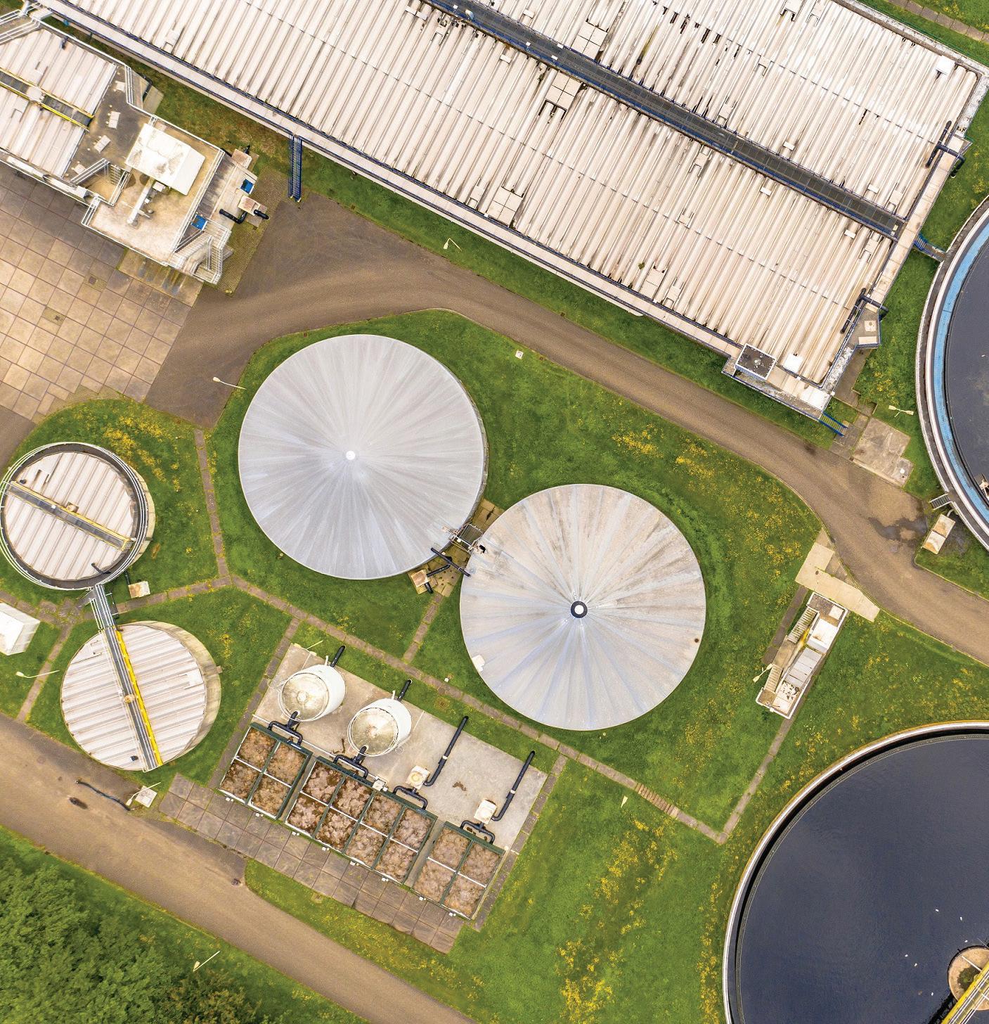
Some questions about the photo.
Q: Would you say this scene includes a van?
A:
No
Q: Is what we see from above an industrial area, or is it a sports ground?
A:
industrial area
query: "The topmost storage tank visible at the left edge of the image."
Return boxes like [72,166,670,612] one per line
[0,444,153,588]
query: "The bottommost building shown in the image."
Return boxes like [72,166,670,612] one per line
[755,591,849,718]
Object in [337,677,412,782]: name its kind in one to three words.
silo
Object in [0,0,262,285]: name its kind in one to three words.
building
